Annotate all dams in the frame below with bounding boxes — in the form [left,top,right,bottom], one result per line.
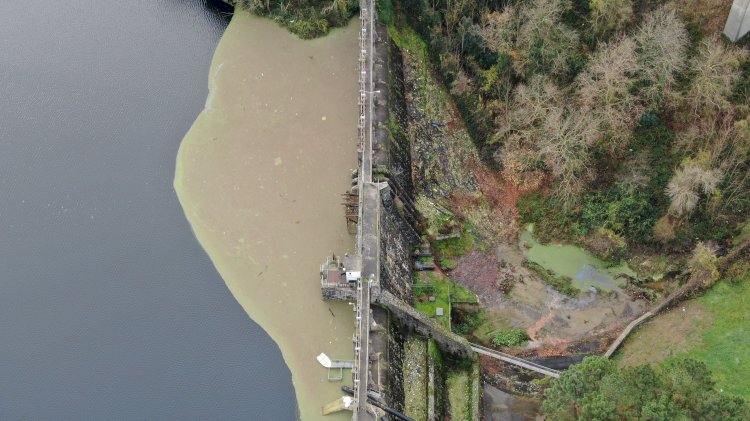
[349,0,428,421]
